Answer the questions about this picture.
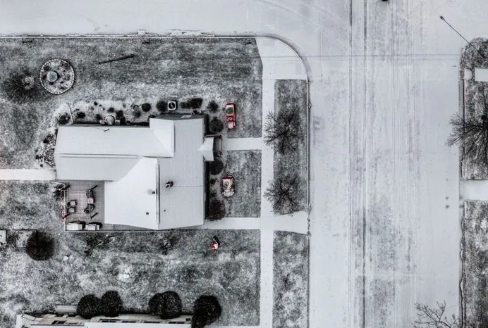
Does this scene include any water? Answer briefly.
No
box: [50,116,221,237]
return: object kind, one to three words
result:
house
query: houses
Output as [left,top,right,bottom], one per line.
[50,116,221,237]
[15,311,205,328]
